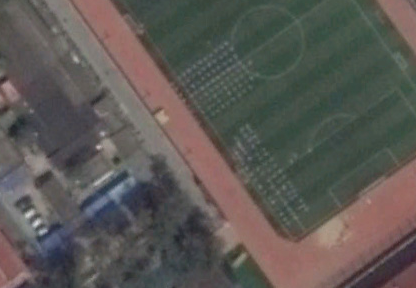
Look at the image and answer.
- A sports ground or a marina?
sports ground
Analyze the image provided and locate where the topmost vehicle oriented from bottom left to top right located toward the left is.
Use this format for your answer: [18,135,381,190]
[16,194,32,208]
